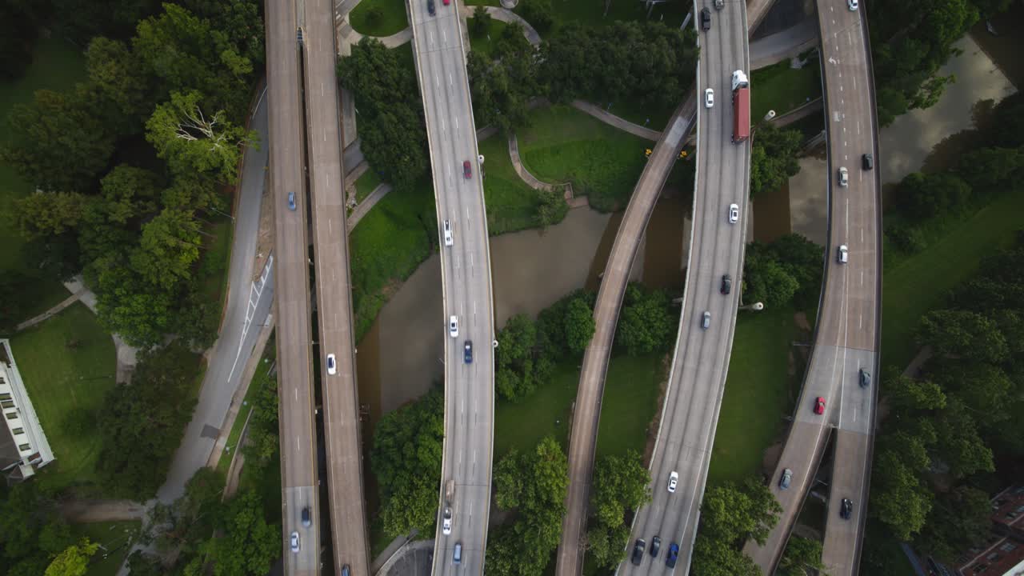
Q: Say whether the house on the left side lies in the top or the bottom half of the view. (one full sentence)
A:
The bottom half of the photo is where the house on the left side is.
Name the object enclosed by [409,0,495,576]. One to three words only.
bridge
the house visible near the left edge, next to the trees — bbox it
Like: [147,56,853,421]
[0,335,62,474]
